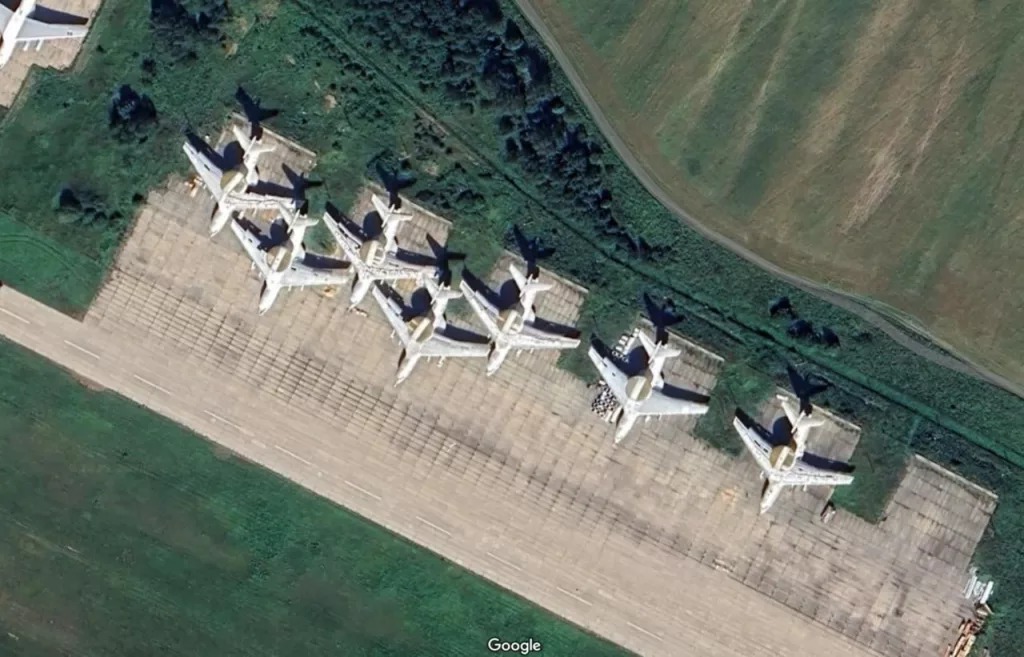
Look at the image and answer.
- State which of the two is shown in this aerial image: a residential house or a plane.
plane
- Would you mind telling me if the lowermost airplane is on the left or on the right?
right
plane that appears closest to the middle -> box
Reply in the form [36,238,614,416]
[458,264,580,381]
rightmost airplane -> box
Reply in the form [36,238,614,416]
[730,399,855,516]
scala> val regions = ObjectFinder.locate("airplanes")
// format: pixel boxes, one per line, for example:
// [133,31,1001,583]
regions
[227,202,349,317]
[369,275,488,389]
[458,264,580,381]
[0,0,86,67]
[730,399,855,516]
[319,196,440,312]
[183,126,301,241]
[586,331,708,447]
